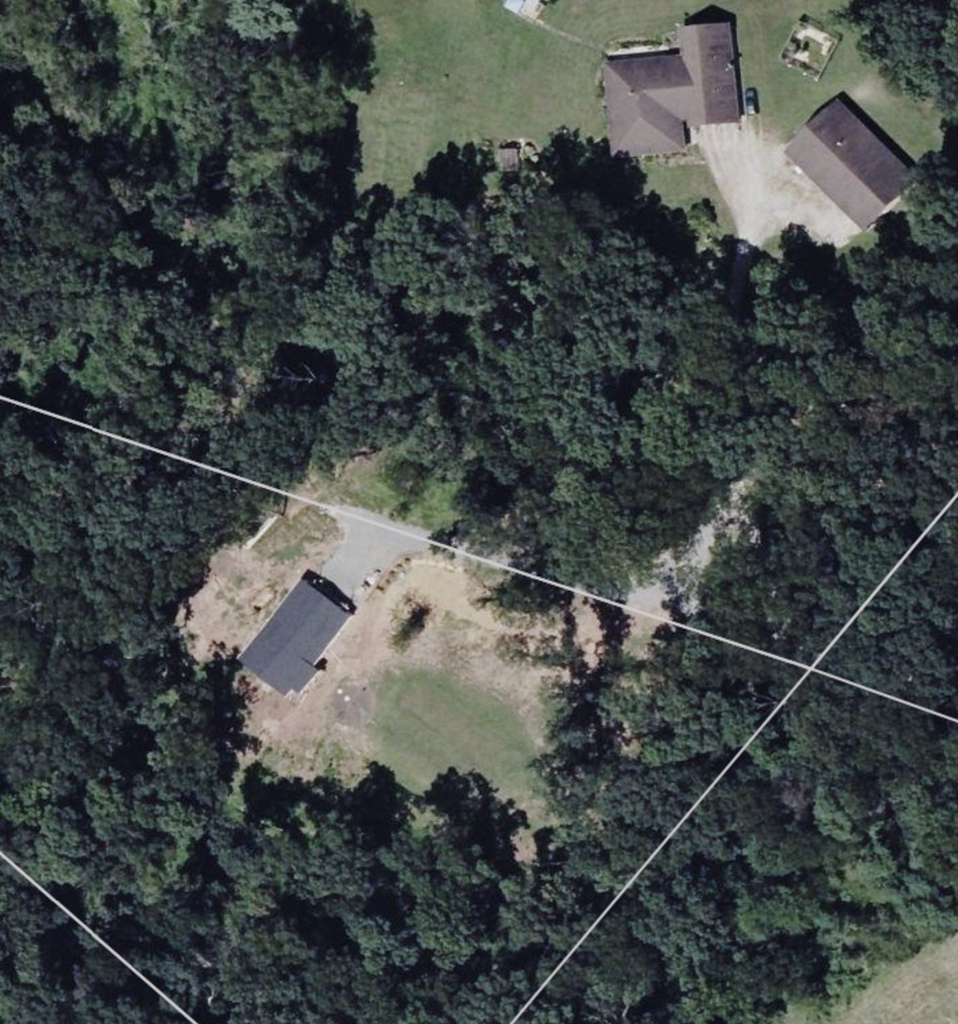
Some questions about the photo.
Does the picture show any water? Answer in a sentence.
No, there is no water in the image.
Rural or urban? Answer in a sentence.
The land in this view is best described as rural.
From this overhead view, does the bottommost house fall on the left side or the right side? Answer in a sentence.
The bottommost house sits on the left side.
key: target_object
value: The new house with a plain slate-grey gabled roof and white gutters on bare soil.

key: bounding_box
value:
[238,580,354,697]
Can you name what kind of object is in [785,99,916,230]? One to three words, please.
barn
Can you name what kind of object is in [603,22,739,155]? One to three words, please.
house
